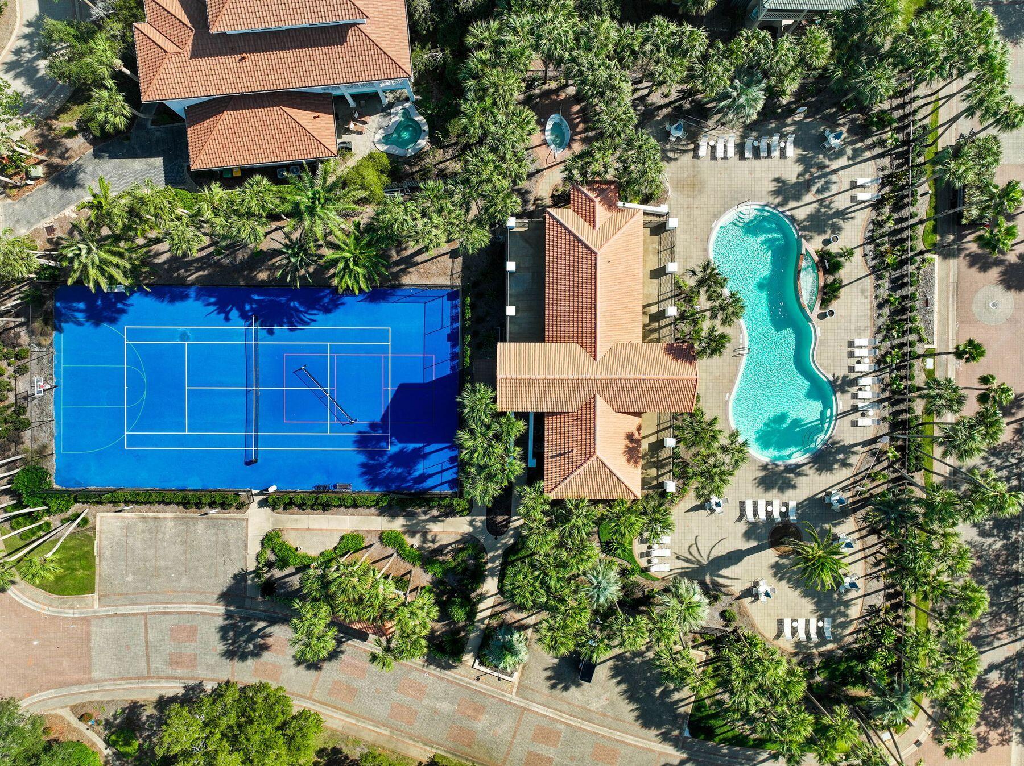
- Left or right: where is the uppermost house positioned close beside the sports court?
left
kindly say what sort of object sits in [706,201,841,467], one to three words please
swimming pool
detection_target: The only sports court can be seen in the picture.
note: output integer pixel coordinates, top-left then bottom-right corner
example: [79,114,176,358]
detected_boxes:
[54,287,459,492]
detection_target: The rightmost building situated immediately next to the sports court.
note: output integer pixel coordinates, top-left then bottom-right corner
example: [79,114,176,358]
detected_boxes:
[496,179,704,501]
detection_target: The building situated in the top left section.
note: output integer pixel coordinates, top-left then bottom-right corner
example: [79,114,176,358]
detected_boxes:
[132,0,418,172]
